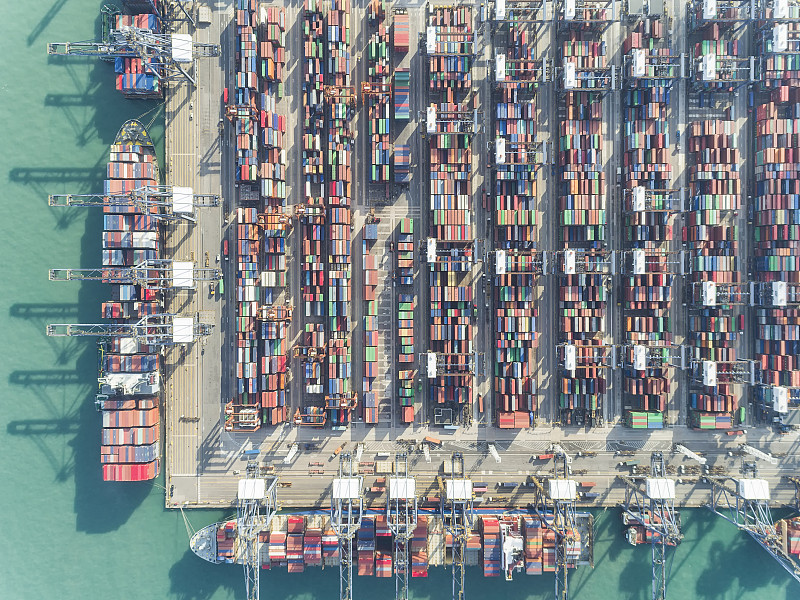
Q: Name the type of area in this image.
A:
port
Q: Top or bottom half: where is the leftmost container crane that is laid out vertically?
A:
bottom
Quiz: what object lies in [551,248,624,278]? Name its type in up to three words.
crane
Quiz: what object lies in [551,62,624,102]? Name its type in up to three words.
crane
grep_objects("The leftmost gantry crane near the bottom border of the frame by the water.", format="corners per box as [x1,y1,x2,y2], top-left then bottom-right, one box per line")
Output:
[237,450,288,600]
